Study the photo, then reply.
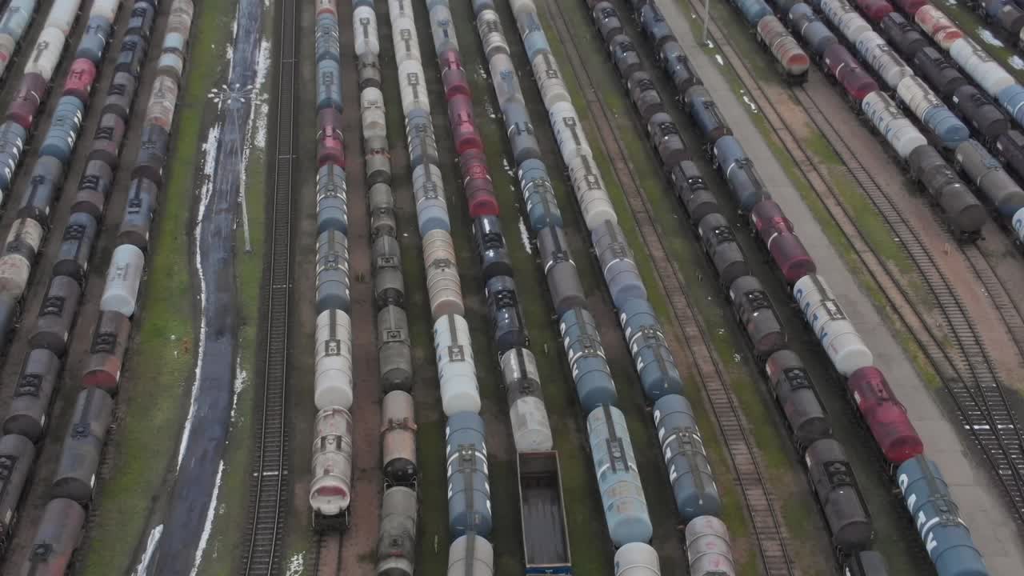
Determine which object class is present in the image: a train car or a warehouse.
train car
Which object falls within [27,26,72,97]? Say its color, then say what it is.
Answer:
white rail car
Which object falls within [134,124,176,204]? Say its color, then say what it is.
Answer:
gray rail car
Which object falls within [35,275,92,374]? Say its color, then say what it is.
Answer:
gray rail car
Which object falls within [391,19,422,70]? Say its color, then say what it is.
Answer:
white rail car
